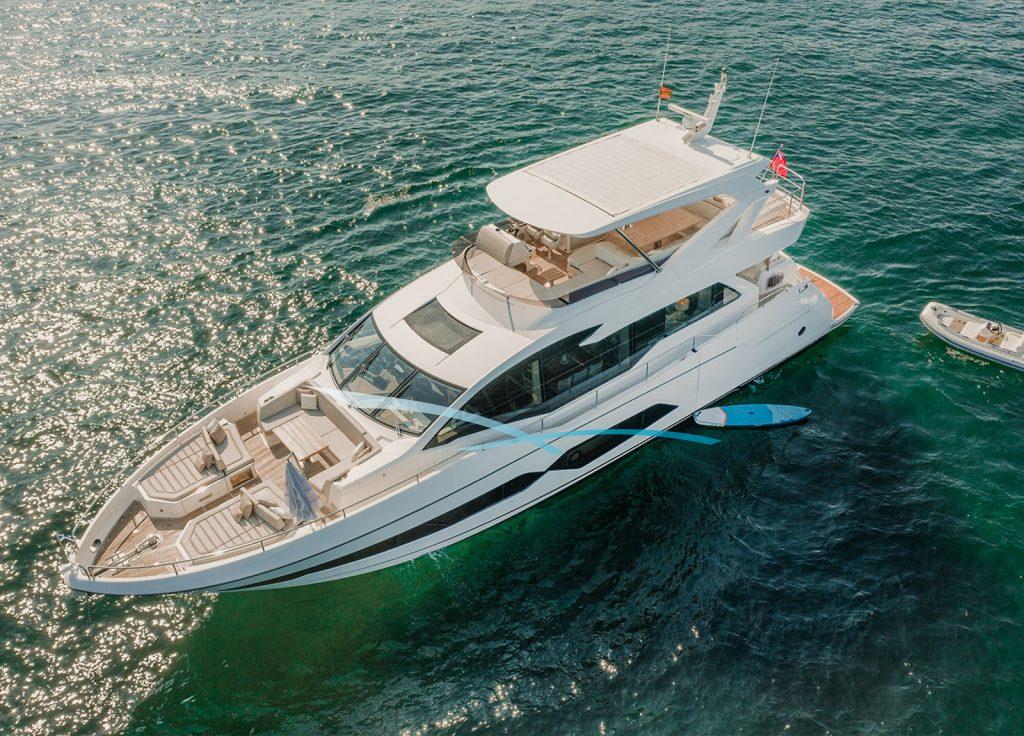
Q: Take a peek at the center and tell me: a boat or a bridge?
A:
boat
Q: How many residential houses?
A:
zero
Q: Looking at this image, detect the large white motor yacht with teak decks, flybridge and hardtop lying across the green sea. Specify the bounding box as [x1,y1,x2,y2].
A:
[56,36,859,596]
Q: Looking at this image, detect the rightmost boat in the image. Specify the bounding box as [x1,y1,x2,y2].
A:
[920,303,1024,376]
